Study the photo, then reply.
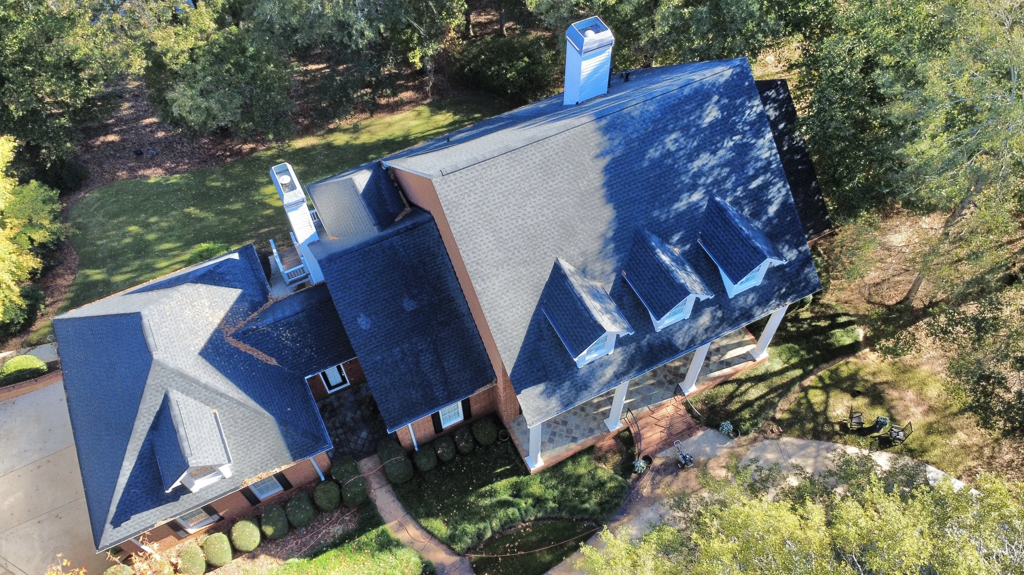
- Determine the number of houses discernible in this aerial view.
one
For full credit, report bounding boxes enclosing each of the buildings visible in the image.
[49,17,838,561]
